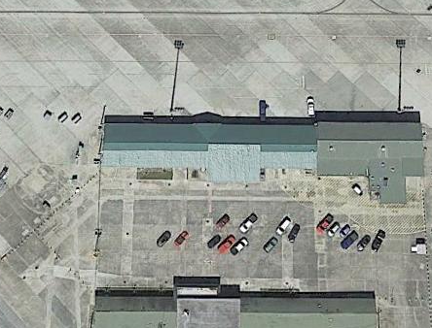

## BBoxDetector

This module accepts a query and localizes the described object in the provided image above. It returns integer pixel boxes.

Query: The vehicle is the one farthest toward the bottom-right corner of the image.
[411,243,427,255]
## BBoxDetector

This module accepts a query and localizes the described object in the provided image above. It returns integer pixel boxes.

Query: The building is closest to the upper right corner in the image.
[315,122,424,203]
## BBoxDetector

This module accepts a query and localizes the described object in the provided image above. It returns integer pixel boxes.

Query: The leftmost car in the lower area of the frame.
[156,231,173,247]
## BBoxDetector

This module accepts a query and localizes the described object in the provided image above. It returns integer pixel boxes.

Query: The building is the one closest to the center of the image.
[101,123,318,183]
